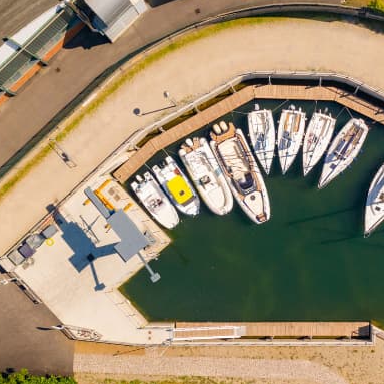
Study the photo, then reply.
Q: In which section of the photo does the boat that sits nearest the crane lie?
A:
center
